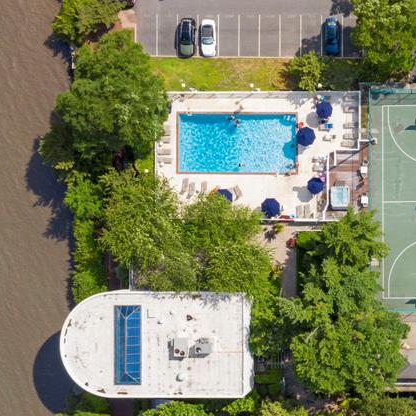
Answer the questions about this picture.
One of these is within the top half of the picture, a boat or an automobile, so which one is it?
automobile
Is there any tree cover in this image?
Yes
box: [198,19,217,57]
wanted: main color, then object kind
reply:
white car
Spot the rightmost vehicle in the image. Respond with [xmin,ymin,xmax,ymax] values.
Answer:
[323,19,340,54]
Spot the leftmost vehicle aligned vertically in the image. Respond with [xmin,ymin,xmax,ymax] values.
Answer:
[177,18,196,57]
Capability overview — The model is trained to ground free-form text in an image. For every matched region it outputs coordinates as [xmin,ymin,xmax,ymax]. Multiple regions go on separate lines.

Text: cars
[198,19,217,57]
[107,0,139,8]
[323,19,340,54]
[177,18,196,57]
